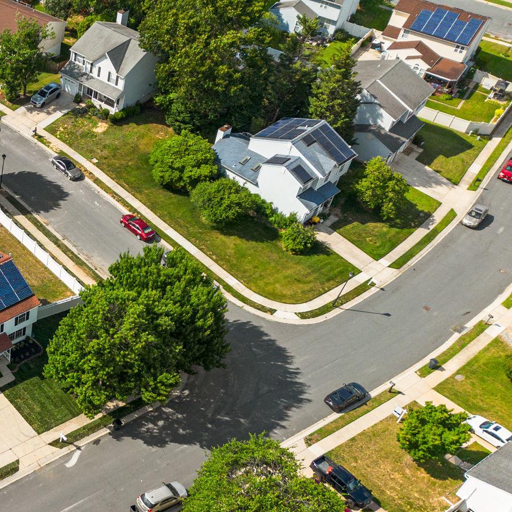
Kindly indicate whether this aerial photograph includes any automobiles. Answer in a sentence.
Yes, an automobile is visible in the scene.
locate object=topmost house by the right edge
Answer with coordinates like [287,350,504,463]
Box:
[377,0,493,94]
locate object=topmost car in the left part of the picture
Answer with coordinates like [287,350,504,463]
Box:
[33,80,61,105]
